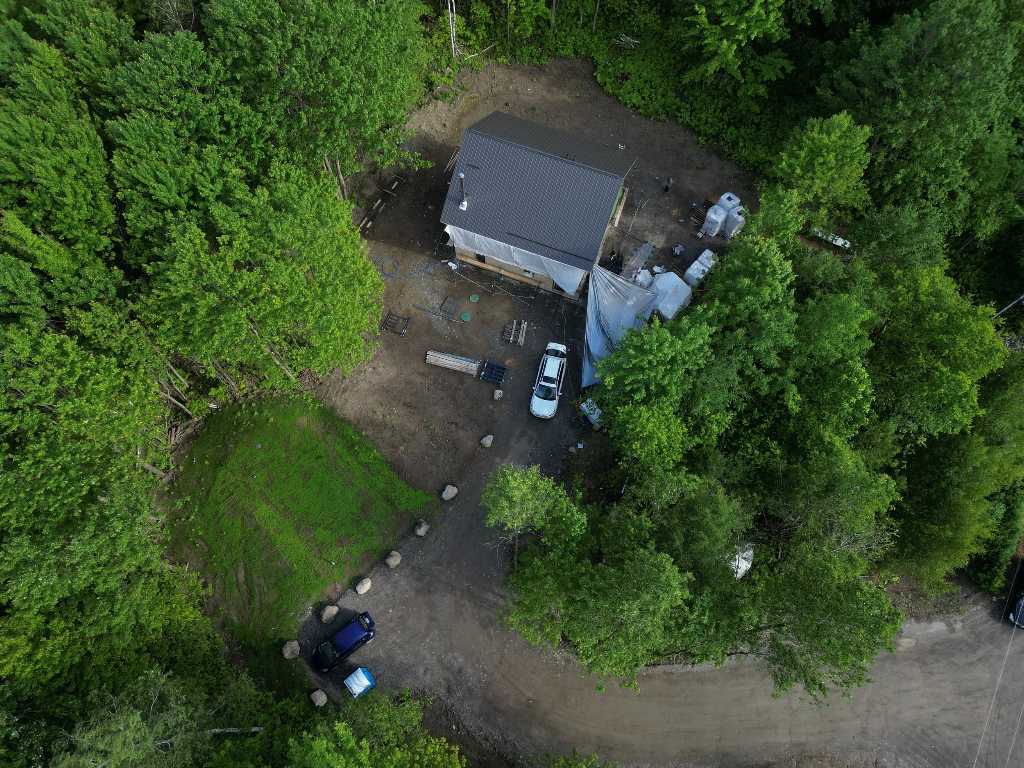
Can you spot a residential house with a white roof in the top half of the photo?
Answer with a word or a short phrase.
No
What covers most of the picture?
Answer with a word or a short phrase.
trees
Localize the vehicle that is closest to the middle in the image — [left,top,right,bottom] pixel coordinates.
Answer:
[532,342,569,421]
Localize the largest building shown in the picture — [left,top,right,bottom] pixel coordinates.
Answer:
[441,109,635,300]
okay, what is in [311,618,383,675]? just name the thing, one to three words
car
